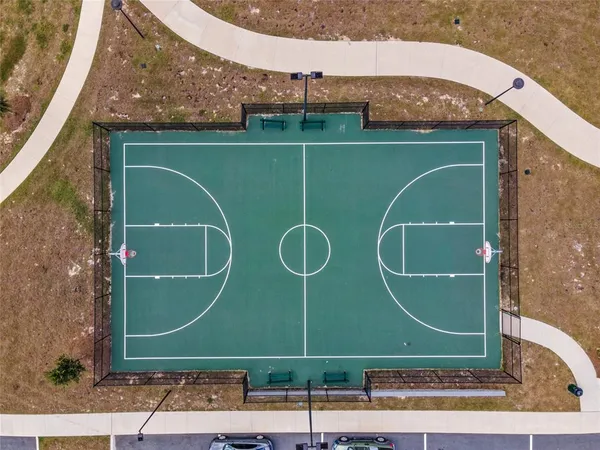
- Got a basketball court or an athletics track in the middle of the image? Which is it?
basketball court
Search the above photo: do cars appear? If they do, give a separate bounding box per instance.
[330,436,397,450]
[210,435,275,450]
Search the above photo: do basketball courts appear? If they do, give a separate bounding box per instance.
[109,112,502,389]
